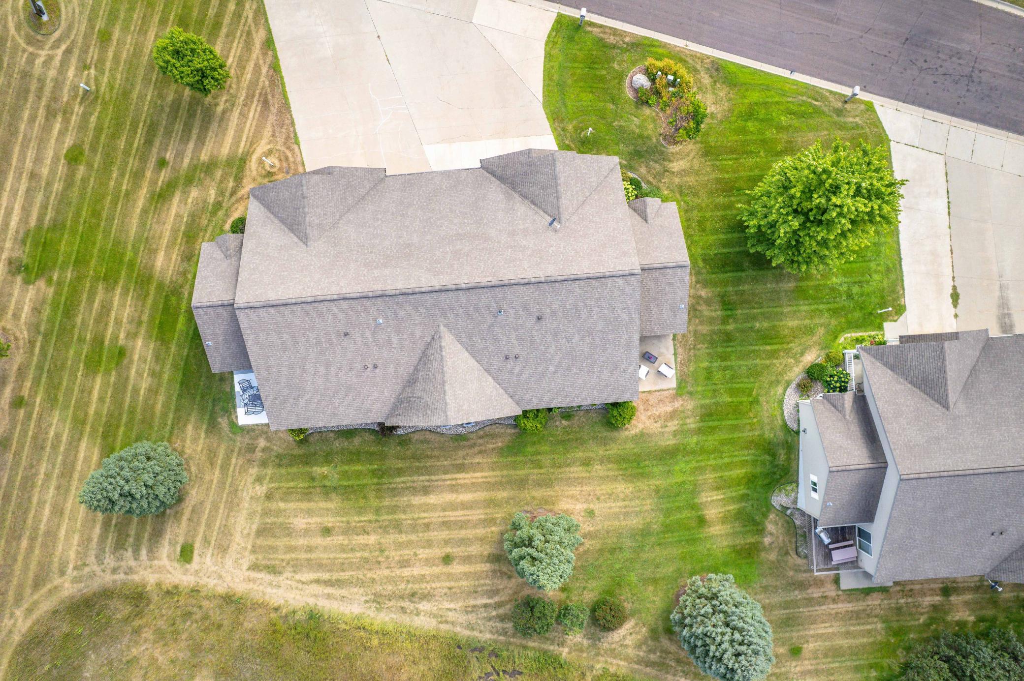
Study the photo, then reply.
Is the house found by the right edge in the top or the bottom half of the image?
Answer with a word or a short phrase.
bottom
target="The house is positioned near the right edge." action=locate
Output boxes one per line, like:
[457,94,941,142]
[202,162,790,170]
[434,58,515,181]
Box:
[797,327,1024,588]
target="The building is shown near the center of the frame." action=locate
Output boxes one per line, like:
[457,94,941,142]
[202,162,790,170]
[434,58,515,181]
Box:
[191,148,690,430]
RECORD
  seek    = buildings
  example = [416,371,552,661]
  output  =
[797,327,1024,588]
[191,148,690,430]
